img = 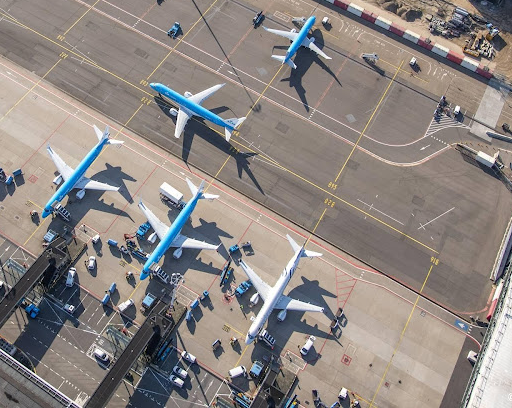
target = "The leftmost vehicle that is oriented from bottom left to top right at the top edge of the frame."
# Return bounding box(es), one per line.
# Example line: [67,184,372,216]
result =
[168,19,181,34]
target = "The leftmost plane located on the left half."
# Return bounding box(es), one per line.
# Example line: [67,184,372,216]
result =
[44,123,125,215]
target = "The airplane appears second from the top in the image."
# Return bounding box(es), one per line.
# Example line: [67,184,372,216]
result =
[151,82,248,141]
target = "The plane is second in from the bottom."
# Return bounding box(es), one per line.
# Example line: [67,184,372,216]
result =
[139,177,220,277]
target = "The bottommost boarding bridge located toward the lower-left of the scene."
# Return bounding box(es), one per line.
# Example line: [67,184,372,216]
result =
[84,302,175,408]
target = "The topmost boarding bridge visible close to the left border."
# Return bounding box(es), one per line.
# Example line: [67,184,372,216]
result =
[0,236,73,330]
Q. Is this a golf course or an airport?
airport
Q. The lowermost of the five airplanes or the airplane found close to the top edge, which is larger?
the lowermost of the five airplanes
